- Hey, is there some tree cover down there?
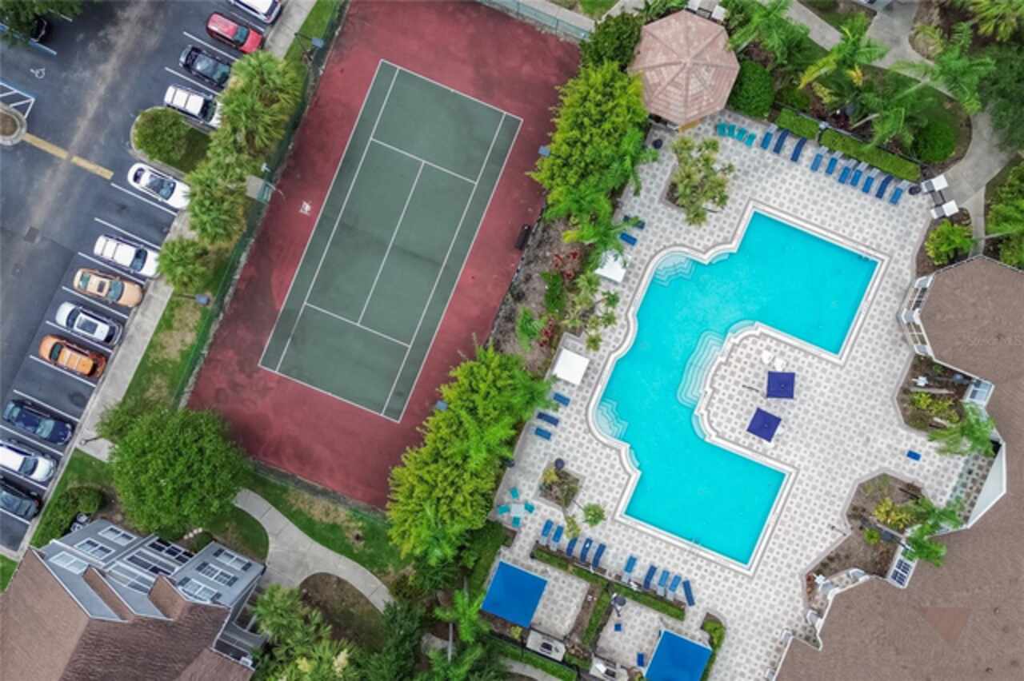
Yes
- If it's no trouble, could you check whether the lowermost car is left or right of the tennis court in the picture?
to its left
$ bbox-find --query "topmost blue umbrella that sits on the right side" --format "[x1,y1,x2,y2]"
[767,370,796,399]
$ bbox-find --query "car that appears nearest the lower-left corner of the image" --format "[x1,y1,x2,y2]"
[0,476,41,519]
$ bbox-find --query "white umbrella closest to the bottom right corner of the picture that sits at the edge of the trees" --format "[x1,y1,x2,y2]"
[552,348,590,386]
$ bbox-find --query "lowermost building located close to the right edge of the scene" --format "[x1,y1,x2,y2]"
[770,254,1024,681]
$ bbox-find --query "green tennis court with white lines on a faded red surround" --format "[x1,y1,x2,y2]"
[173,0,602,524]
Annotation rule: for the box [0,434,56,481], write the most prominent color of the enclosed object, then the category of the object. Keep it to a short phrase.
white car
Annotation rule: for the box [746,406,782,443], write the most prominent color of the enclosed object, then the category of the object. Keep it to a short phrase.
blue umbrella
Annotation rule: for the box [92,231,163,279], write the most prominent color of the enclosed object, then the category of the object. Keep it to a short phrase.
white car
